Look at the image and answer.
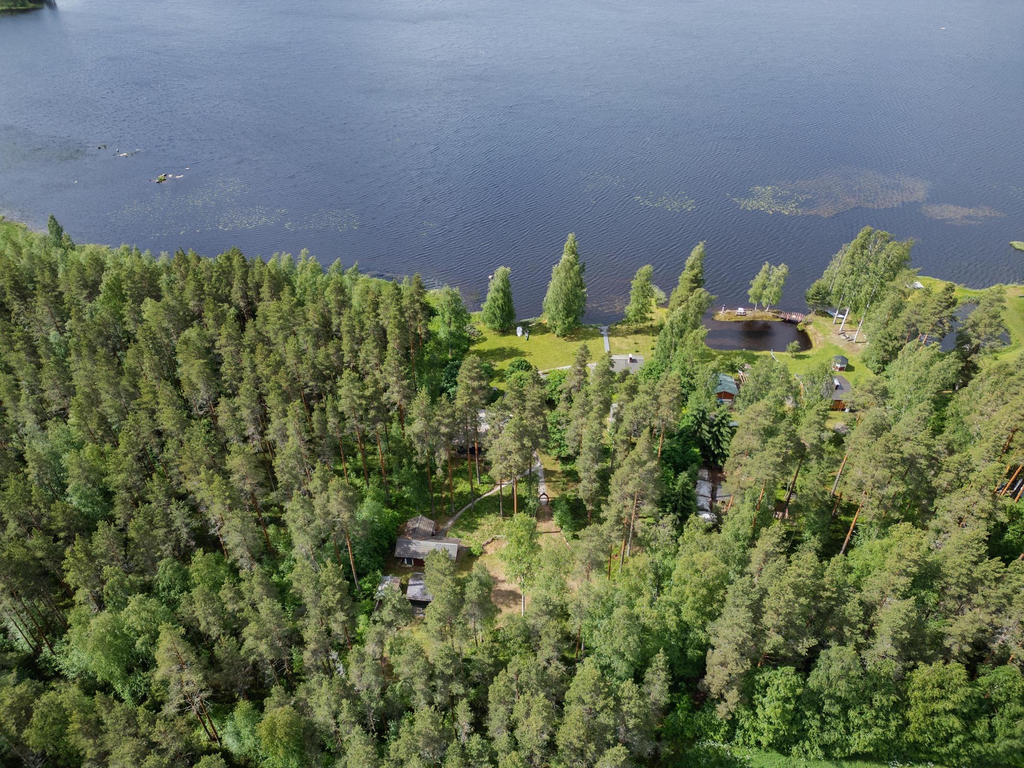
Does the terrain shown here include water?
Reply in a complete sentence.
Yes, some water is visible.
